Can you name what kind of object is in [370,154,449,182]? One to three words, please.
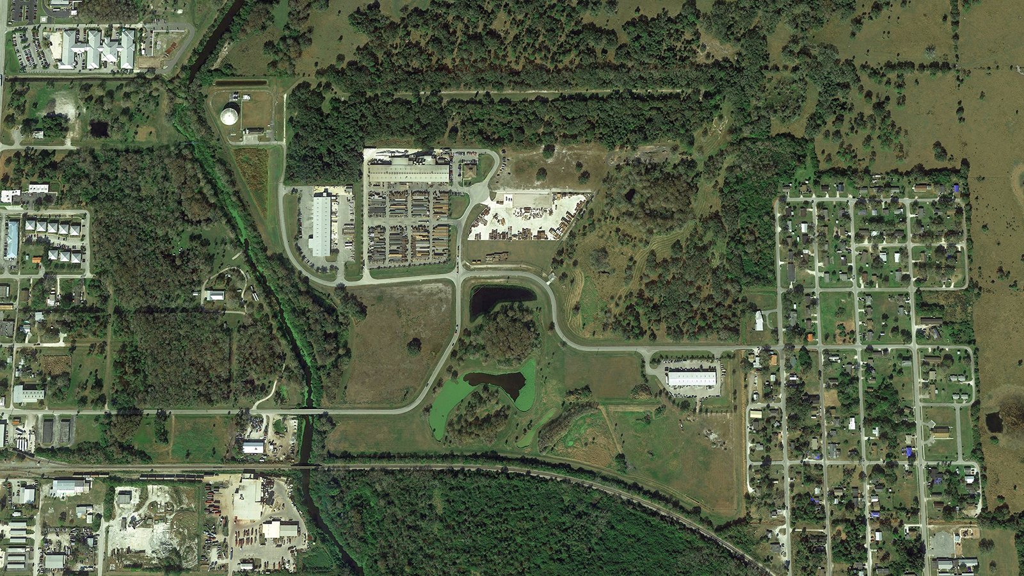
building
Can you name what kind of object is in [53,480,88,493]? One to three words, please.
building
